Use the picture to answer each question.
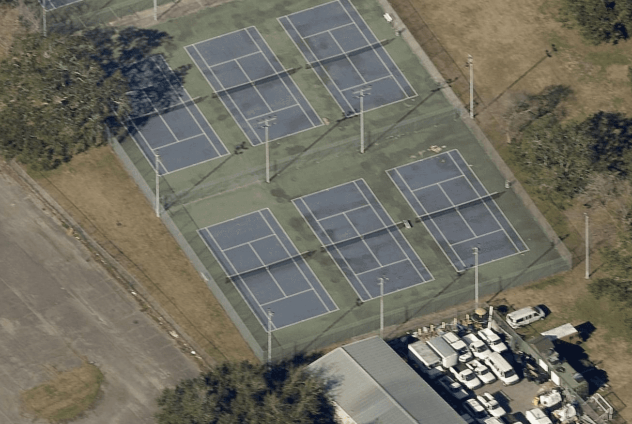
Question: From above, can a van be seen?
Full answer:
Yes, there's a van down there.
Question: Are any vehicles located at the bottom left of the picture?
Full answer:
No, the scene shows no vehicle at the bottom left of the picture.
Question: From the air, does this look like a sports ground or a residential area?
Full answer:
The picture captures a sports ground.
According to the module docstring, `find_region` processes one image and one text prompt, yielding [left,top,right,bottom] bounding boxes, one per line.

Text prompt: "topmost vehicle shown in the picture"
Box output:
[500,305,550,331]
